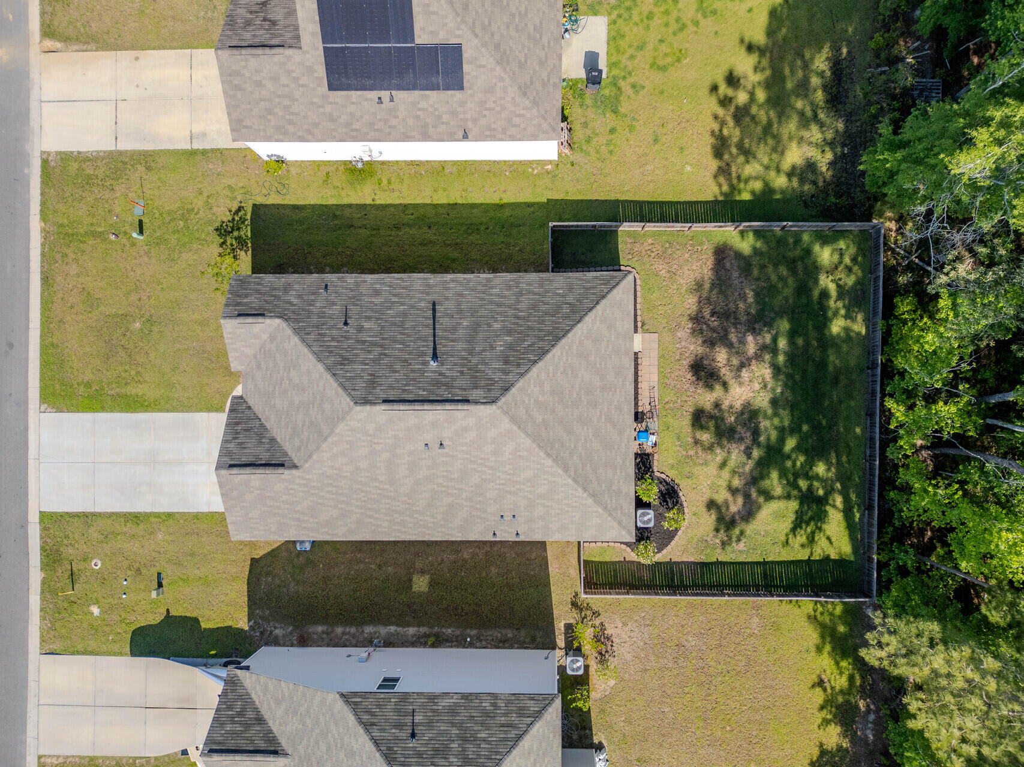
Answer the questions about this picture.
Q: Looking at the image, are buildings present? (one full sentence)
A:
Yes, this view includes a building.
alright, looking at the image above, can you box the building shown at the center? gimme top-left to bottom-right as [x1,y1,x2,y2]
[215,272,637,543]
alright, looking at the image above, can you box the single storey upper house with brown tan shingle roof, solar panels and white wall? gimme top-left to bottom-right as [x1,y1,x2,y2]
[215,0,564,160]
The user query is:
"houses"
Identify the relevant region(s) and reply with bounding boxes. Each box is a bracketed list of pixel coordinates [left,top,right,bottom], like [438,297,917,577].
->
[200,649,563,767]
[215,0,564,160]
[215,272,637,543]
